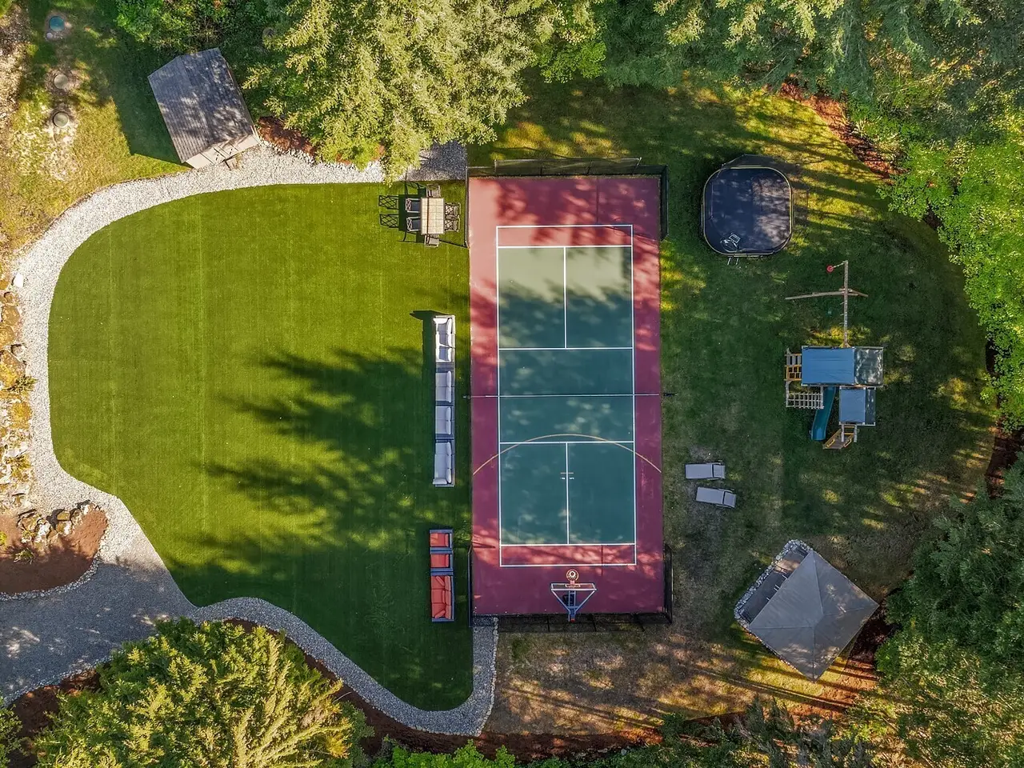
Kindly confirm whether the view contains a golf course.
No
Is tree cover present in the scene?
Yes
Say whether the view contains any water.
No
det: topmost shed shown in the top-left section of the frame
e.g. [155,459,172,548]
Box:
[147,48,264,172]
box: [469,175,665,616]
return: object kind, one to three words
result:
sports court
